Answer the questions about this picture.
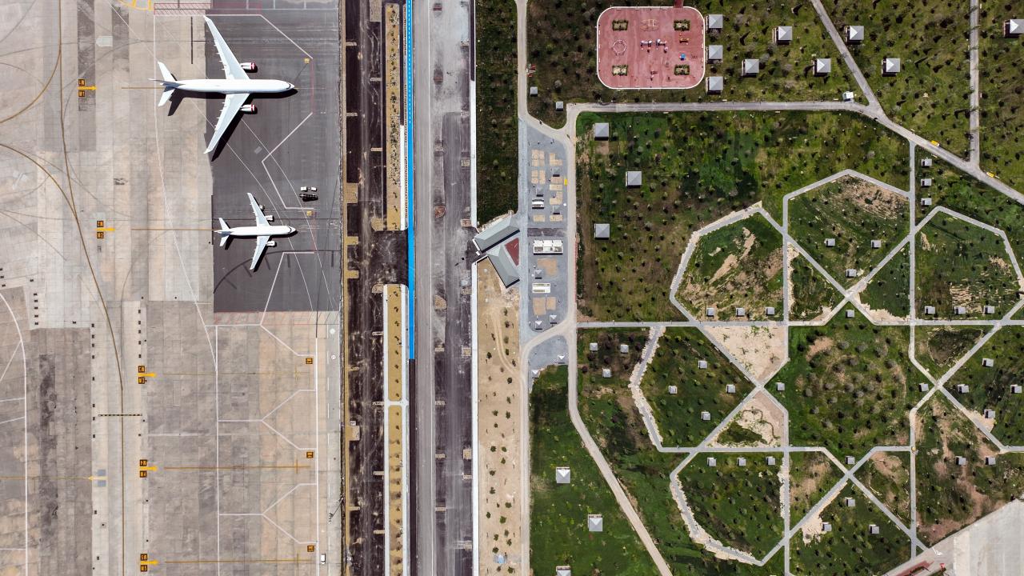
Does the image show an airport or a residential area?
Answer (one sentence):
The area seen from above is an airport.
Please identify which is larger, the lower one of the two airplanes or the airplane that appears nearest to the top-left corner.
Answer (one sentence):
The lower one of the two airplanes is smaller than the airplane that appears nearest to the top-left corner.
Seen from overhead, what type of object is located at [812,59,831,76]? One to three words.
building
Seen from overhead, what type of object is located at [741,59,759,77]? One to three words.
building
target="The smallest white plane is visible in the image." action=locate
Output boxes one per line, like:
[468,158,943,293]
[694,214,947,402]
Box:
[214,192,296,269]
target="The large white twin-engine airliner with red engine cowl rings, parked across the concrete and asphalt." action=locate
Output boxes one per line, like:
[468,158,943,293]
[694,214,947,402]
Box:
[148,15,295,153]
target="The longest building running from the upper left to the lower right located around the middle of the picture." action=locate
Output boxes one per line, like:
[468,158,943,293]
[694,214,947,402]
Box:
[487,245,520,287]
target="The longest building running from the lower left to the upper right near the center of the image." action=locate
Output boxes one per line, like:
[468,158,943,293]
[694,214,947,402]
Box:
[474,216,520,251]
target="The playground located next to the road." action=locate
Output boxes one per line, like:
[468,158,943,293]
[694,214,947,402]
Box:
[598,7,705,88]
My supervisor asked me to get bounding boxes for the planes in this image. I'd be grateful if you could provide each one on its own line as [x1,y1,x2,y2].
[148,15,295,153]
[214,192,296,269]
